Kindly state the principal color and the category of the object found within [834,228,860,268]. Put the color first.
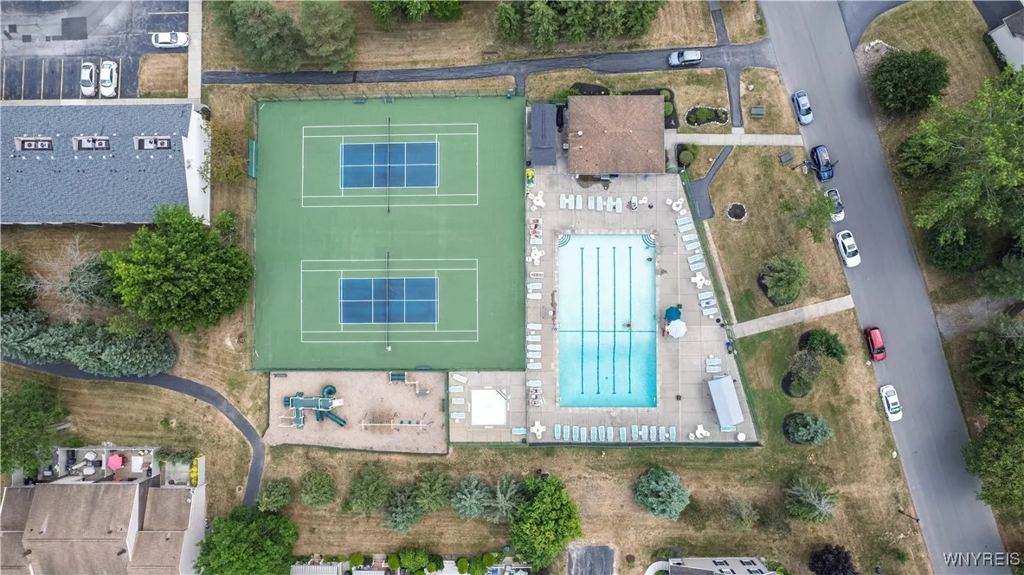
white car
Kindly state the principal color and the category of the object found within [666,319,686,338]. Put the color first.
white umbrella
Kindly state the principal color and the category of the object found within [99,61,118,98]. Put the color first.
white car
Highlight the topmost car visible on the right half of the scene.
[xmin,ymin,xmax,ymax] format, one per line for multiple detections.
[667,49,703,67]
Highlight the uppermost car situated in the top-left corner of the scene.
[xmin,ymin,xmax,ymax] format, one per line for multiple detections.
[152,31,189,49]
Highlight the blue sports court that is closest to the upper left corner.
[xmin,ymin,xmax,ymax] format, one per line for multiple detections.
[340,142,439,189]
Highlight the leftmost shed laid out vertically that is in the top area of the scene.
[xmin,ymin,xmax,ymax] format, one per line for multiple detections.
[531,102,557,168]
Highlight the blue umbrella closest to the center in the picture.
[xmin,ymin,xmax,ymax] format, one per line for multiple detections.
[664,305,681,321]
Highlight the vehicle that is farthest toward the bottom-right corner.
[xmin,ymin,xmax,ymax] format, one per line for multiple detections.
[877,383,902,422]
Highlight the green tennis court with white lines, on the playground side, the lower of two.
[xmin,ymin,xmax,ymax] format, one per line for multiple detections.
[254,231,525,371]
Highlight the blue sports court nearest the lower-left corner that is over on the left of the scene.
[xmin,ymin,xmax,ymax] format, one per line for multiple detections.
[339,277,439,324]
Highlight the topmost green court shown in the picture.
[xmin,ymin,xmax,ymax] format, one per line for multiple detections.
[256,95,525,234]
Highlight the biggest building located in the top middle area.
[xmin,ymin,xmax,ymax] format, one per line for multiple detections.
[567,94,666,177]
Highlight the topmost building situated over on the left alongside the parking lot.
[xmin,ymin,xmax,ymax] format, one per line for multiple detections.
[0,102,211,228]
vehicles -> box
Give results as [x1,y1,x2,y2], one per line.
[834,228,860,268]
[790,88,814,126]
[823,187,846,223]
[152,31,189,49]
[807,143,837,181]
[877,383,902,422]
[79,63,99,98]
[862,325,886,362]
[667,49,703,67]
[99,61,118,98]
